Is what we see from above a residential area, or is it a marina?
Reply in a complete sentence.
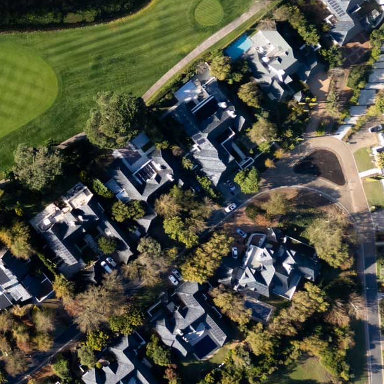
What you see here is a residential area.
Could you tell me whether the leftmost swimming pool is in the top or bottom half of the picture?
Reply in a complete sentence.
The bottom half of the photo is where the leftmost swimming pool is.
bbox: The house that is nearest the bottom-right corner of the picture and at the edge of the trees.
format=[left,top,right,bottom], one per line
[231,232,319,306]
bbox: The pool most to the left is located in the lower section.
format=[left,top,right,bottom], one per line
[193,339,216,361]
